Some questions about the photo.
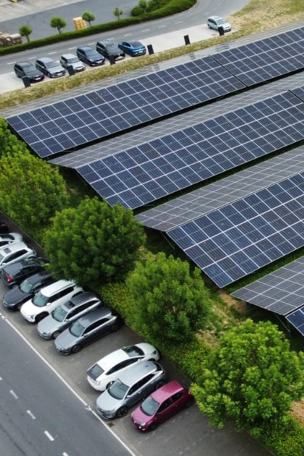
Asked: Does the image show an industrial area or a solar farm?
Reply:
solar farm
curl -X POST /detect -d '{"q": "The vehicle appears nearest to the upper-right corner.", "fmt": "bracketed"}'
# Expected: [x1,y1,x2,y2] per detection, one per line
[204,13,228,29]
